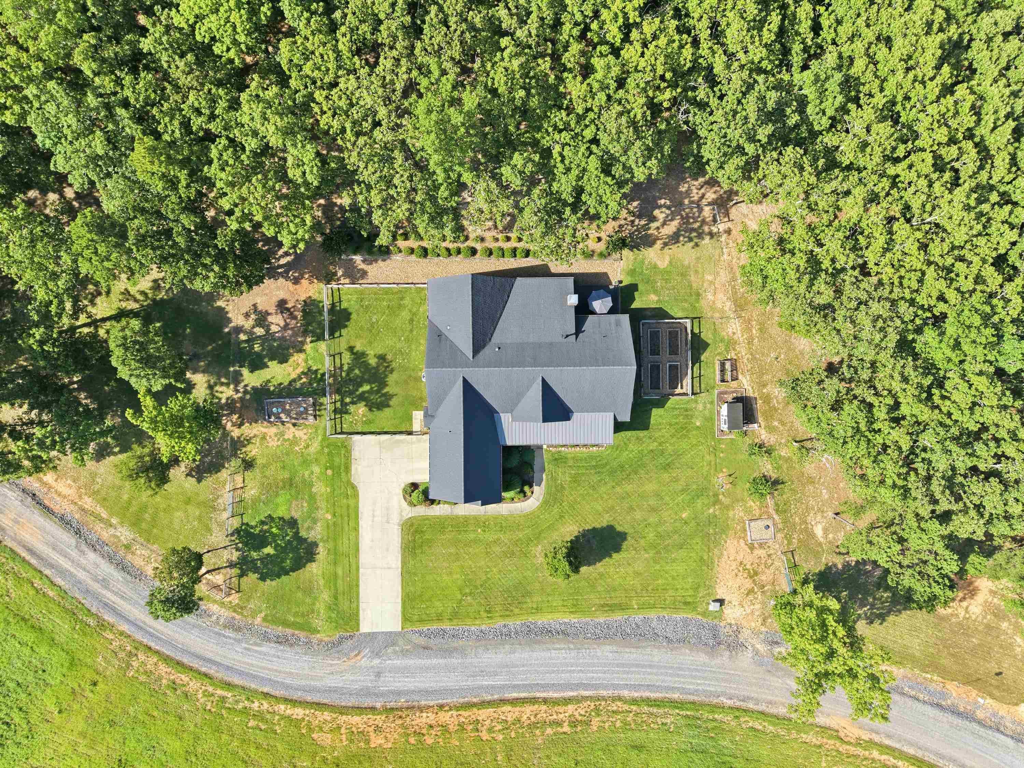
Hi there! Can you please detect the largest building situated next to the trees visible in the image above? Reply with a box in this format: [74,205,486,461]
[422,273,636,507]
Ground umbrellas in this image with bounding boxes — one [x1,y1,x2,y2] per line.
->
[589,290,613,313]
